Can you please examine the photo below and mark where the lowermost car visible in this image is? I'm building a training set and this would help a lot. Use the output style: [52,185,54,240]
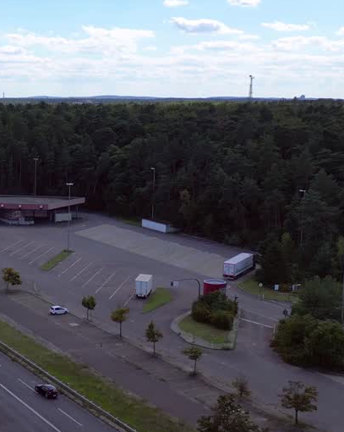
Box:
[34,382,60,398]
